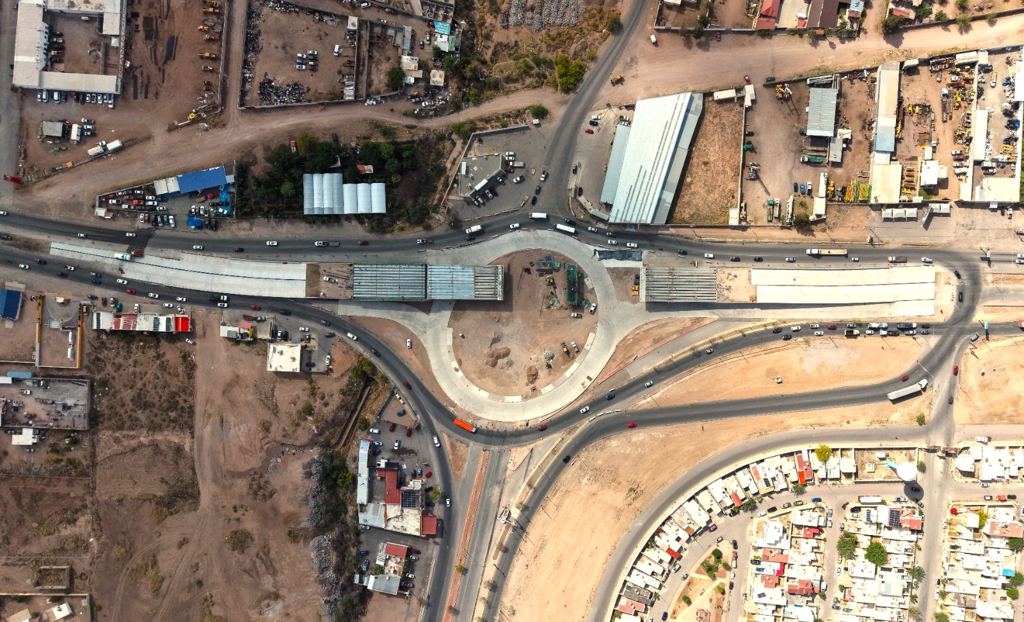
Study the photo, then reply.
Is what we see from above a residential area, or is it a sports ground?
residential area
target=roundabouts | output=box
[338,230,936,421]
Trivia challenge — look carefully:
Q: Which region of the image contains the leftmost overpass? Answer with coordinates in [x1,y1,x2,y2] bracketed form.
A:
[51,242,504,301]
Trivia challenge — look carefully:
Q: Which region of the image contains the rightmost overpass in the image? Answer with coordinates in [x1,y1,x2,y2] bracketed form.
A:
[639,266,935,303]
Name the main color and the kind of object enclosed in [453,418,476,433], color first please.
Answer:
orange vehicle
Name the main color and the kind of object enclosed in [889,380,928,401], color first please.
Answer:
white truck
